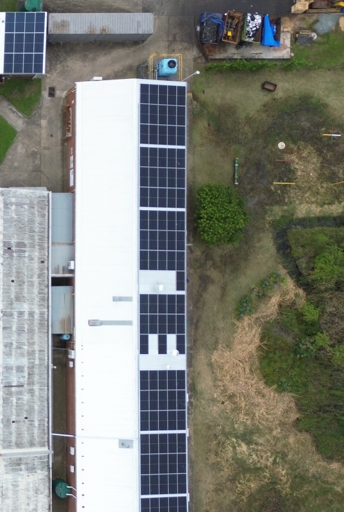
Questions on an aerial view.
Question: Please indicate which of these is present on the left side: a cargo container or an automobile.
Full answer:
The feature located on the left side is a cargo container.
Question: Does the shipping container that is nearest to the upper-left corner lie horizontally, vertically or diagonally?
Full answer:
The shipping container that is nearest to the upper-left corner runs horizontally in the image.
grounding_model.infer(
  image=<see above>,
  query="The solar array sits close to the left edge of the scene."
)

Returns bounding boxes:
[4,12,45,73]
